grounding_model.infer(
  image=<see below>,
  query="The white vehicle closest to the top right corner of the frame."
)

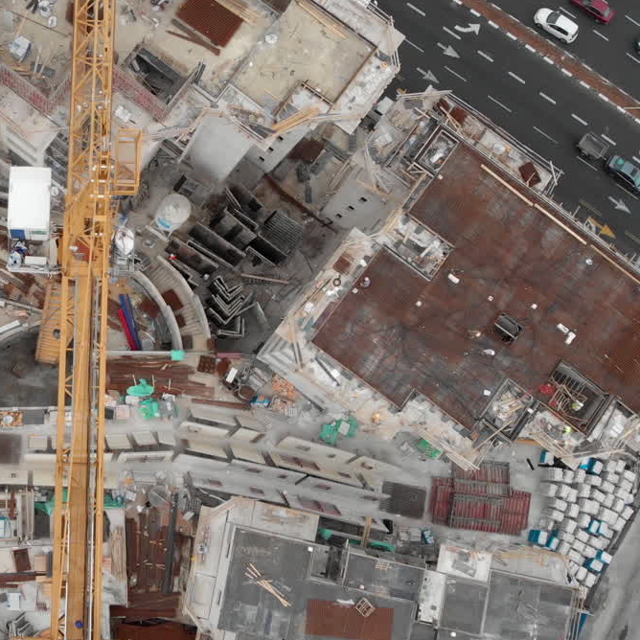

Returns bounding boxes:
[530,8,580,43]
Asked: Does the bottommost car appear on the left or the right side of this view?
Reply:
right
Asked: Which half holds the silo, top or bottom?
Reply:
top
